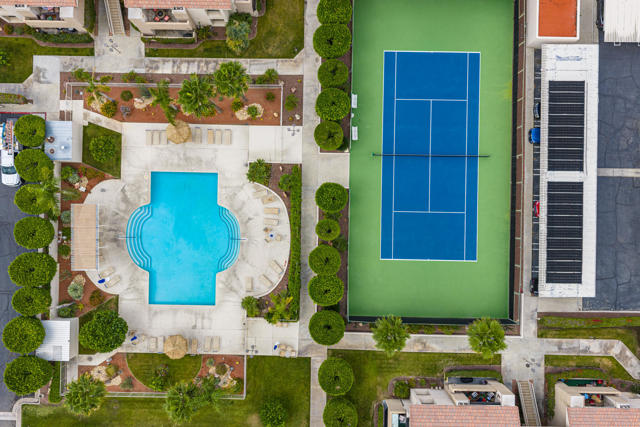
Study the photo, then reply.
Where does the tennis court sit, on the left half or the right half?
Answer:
right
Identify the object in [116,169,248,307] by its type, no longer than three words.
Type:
swimming pool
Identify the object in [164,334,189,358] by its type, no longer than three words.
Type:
umbrella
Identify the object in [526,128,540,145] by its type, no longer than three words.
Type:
vehicle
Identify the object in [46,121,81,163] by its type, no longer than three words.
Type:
shed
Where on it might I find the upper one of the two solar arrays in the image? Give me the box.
[548,81,585,174]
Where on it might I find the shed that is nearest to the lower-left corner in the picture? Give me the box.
[41,314,79,362]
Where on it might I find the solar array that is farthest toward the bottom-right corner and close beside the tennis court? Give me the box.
[546,182,583,283]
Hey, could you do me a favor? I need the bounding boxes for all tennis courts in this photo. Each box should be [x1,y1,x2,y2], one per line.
[348,0,514,318]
